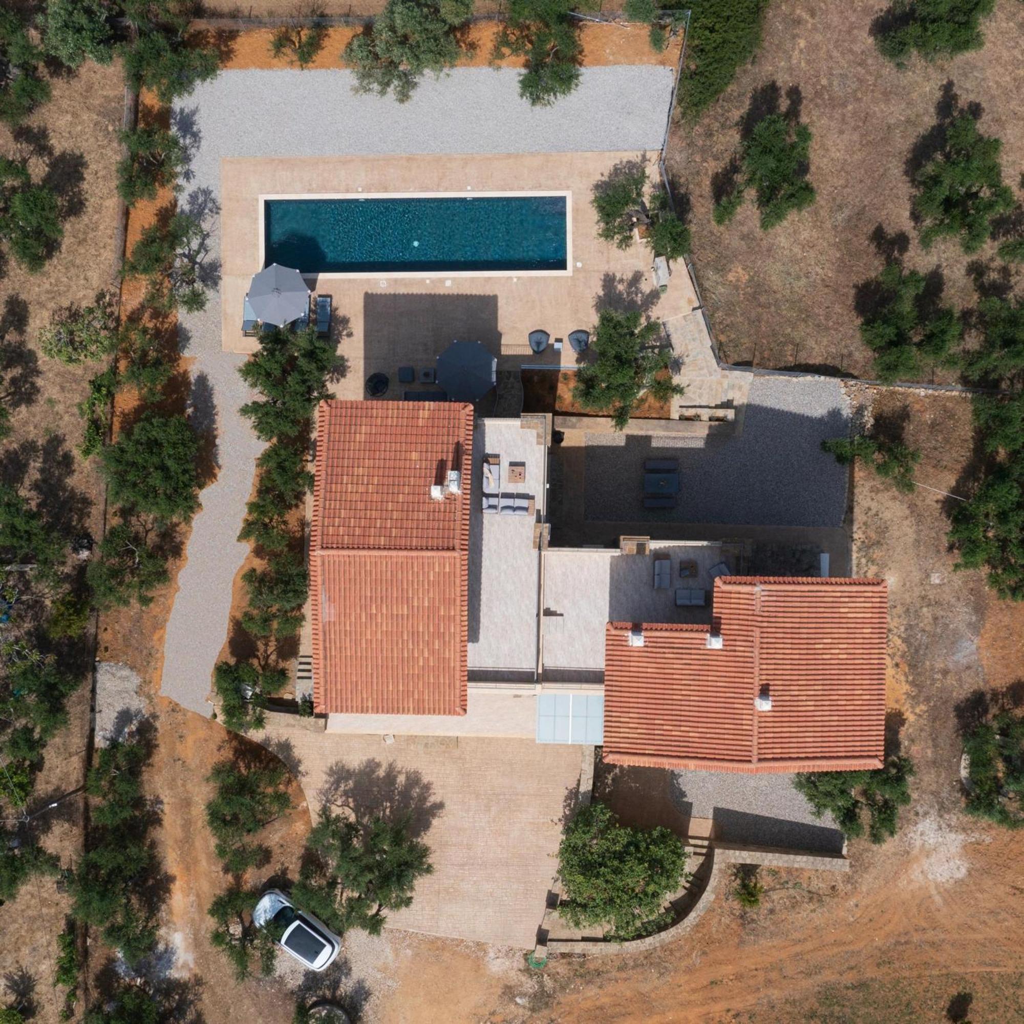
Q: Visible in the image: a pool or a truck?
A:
pool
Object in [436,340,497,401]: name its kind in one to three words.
umbrella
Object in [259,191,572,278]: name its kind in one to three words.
swimming pool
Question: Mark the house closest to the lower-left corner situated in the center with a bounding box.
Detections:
[307,398,552,720]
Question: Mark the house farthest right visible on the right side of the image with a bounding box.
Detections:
[535,537,894,775]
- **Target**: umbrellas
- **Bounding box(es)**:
[436,340,497,401]
[247,264,311,328]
